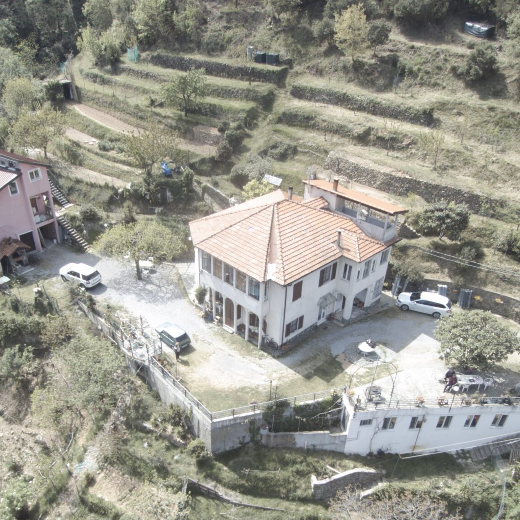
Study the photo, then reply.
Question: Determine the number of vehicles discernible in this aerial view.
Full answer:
There are 3 vehicles in the image.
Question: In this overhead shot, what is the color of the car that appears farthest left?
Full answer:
From above, the car that appears farthest left appears white.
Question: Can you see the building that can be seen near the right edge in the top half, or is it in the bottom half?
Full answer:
It is in the bottom half that the building that can be seen near the right edge appears.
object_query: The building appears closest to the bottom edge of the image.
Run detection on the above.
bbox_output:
[340,390,520,453]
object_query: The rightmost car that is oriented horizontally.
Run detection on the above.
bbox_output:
[394,291,454,319]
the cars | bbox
[394,291,454,319]
[57,261,104,289]
[155,317,193,349]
